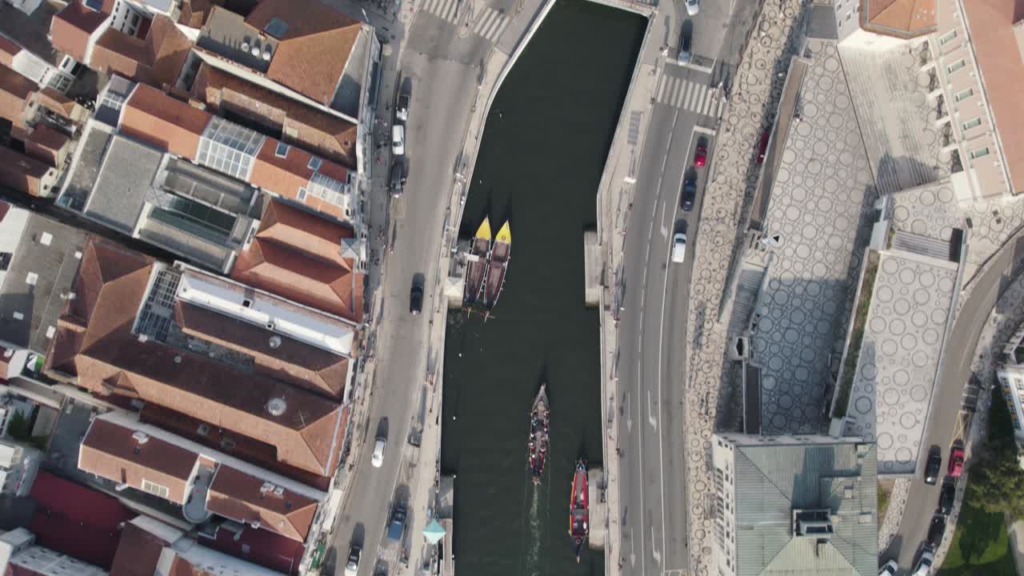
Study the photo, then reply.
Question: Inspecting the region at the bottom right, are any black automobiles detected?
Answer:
Yes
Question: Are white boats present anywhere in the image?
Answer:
No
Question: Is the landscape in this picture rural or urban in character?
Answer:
urban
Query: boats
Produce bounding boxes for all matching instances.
[481,219,512,321]
[463,215,492,318]
[569,458,588,565]
[527,384,549,490]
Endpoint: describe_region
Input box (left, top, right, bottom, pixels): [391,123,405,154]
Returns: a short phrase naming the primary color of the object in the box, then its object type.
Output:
white vehicle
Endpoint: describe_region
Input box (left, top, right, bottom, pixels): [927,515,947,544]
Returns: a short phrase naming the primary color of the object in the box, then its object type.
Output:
black car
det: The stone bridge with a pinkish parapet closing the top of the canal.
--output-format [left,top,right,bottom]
[586,0,659,30]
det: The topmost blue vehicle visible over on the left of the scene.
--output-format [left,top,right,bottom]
[388,509,404,539]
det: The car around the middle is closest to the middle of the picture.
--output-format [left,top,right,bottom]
[410,287,423,313]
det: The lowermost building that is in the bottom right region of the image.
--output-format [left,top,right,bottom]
[712,431,877,576]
